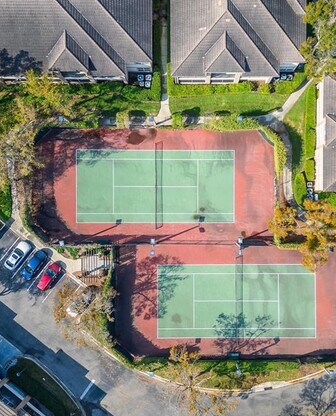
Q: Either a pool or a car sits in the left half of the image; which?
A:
car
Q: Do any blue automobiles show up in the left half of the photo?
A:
Yes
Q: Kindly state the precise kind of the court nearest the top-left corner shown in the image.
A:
tennis court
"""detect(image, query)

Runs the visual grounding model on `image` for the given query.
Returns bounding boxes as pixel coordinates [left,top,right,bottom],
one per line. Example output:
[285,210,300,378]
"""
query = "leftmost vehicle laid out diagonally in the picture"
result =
[4,239,32,271]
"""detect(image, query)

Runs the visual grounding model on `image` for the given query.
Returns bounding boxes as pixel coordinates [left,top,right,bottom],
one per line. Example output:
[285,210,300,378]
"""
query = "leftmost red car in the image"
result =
[36,261,63,291]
